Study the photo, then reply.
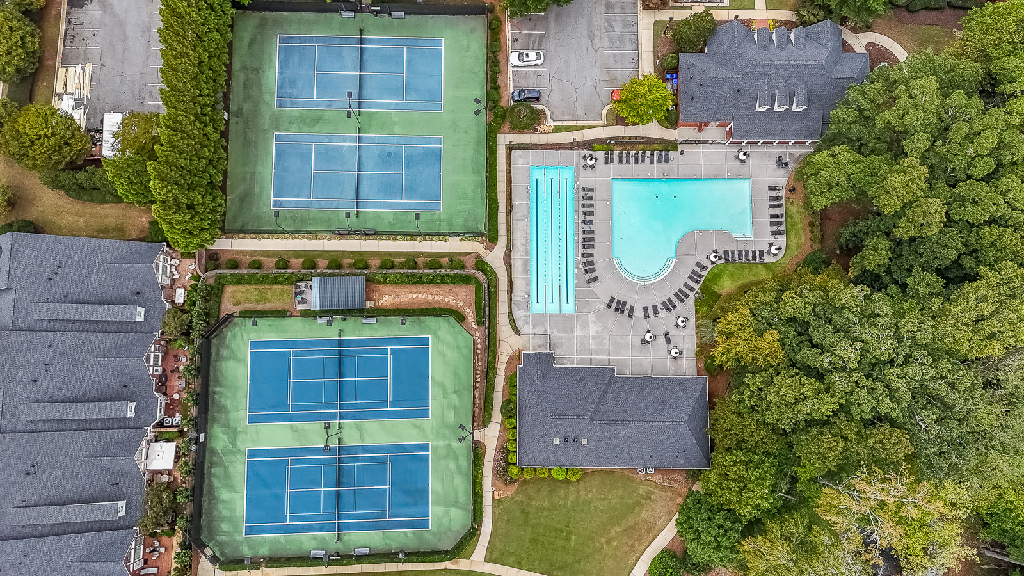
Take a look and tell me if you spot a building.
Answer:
Yes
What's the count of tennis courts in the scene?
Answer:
4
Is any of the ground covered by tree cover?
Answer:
Yes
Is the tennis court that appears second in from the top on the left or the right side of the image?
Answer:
left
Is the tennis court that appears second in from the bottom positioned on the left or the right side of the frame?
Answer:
left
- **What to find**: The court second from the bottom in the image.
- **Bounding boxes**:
[205,316,474,436]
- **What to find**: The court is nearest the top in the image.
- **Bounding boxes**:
[229,11,487,122]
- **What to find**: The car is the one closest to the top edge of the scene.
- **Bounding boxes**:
[511,50,544,67]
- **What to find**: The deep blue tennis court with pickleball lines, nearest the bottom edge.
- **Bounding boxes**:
[201,433,473,562]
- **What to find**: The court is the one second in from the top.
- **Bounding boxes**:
[225,120,487,236]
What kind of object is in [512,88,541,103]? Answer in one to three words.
car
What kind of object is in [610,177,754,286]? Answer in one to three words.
swimming pool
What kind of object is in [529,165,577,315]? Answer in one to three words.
swimming pool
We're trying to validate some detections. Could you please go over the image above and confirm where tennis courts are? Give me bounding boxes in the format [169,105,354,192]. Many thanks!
[205,316,474,436]
[229,11,487,122]
[201,433,473,562]
[225,120,487,236]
